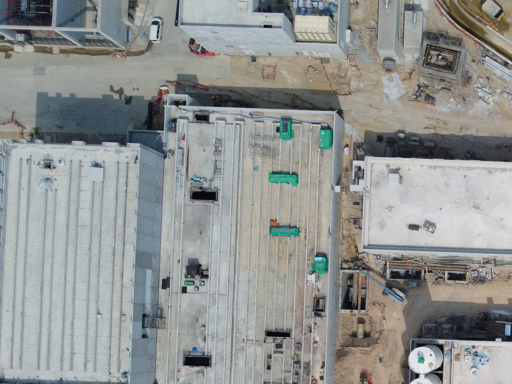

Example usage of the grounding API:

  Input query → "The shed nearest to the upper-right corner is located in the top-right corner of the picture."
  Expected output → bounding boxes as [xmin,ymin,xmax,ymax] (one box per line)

[481,0,505,27]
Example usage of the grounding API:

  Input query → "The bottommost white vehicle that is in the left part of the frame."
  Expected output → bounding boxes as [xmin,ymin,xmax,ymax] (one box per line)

[151,18,165,45]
